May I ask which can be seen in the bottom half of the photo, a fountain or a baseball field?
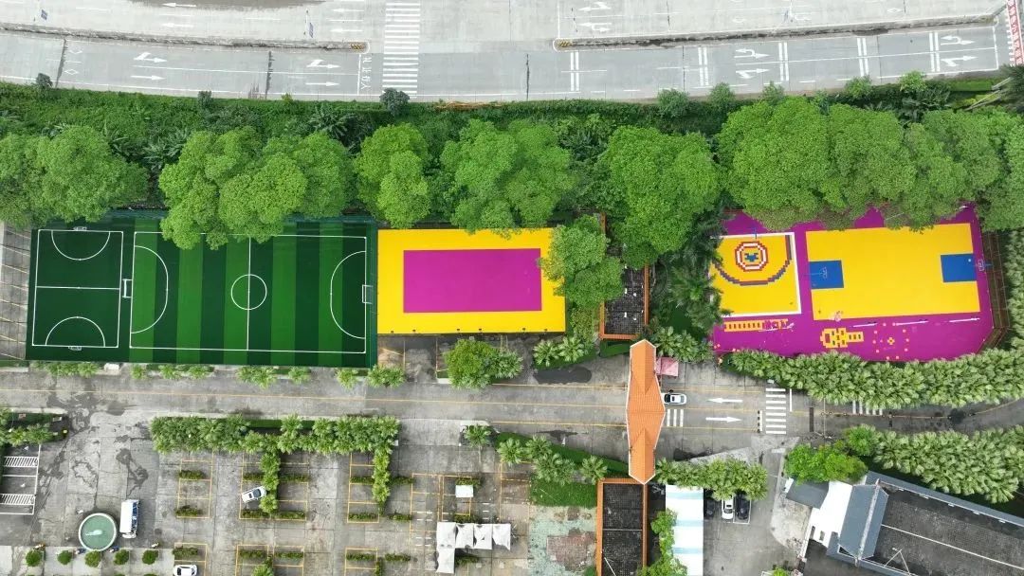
fountain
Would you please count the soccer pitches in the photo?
two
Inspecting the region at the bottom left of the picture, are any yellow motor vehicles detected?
No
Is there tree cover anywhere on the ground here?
Yes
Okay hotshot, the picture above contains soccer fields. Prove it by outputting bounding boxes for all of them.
[26,221,133,362]
[129,221,378,367]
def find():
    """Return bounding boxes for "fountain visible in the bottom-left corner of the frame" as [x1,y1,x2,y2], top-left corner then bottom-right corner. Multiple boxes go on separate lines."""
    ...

[75,513,117,554]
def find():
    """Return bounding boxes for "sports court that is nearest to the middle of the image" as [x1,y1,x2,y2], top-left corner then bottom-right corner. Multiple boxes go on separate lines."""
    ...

[378,227,567,335]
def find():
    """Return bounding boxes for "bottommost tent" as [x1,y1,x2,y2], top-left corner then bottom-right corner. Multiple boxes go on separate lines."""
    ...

[436,548,456,574]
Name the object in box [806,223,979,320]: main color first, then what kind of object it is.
yellow basketball court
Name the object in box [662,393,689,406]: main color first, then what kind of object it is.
white vehicle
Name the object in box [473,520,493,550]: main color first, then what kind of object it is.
white tent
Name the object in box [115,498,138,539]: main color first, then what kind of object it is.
white vehicle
